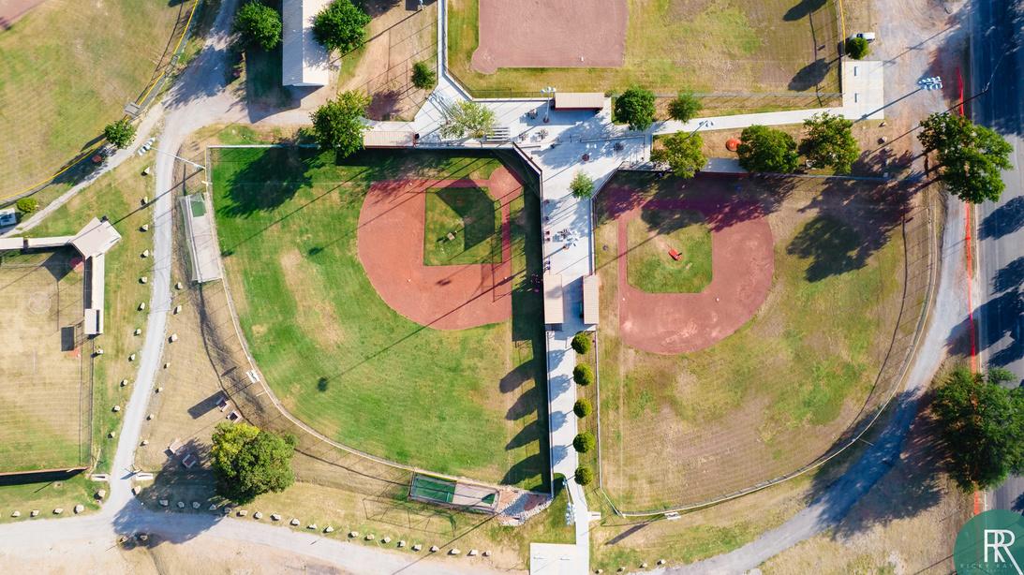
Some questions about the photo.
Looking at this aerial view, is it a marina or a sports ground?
sports ground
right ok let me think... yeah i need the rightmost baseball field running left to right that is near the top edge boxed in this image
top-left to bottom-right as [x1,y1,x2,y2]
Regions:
[449,0,840,96]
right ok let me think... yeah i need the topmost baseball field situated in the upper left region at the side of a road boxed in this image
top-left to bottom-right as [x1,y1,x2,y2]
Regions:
[0,0,203,197]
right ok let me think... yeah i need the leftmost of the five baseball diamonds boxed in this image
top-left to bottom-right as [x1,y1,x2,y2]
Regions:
[0,252,91,471]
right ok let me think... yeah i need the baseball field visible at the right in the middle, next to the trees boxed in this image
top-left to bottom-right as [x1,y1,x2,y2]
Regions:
[596,172,926,511]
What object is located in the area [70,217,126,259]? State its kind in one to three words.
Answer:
building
